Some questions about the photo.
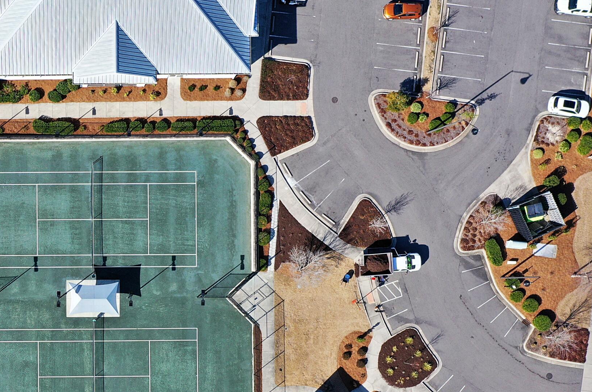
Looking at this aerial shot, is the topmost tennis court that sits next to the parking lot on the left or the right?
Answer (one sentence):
You can find the topmost tennis court that sits next to the parking lot on the left side of the picture.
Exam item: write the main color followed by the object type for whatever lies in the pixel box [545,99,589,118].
white car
